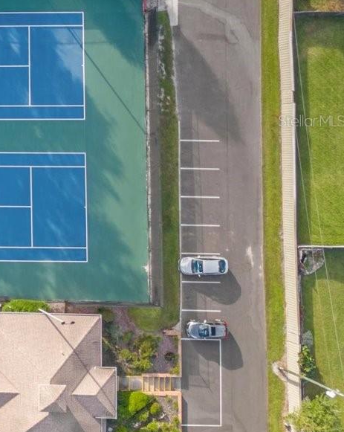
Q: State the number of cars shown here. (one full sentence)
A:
Altogether the scene contains 2 cars.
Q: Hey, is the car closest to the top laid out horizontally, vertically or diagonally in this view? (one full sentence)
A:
In this picture, the car closest to the top is oriented horizontally.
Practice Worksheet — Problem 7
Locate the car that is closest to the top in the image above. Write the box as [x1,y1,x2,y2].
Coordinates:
[181,254,231,278]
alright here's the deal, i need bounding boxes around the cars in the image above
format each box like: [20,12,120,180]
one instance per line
[181,254,231,278]
[187,319,232,343]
